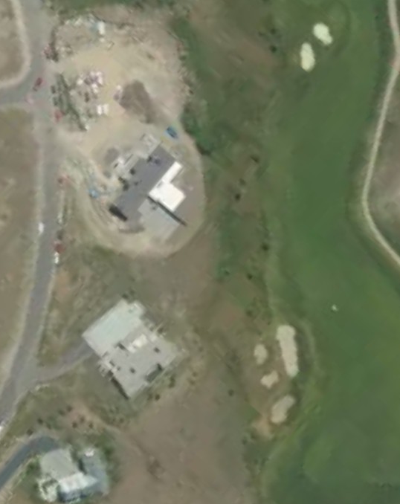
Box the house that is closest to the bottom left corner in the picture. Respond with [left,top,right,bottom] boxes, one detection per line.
[38,448,108,503]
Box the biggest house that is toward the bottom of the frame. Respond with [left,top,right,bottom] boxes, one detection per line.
[81,298,180,399]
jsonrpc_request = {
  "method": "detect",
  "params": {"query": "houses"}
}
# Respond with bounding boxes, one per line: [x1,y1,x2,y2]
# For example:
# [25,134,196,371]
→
[112,135,186,239]
[38,448,108,503]
[81,298,180,399]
